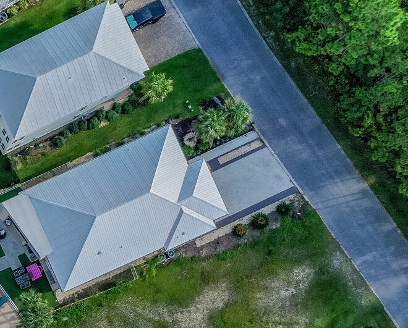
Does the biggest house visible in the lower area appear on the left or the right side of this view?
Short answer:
left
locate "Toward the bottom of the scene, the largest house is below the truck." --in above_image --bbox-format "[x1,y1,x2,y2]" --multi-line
[2,124,230,291]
